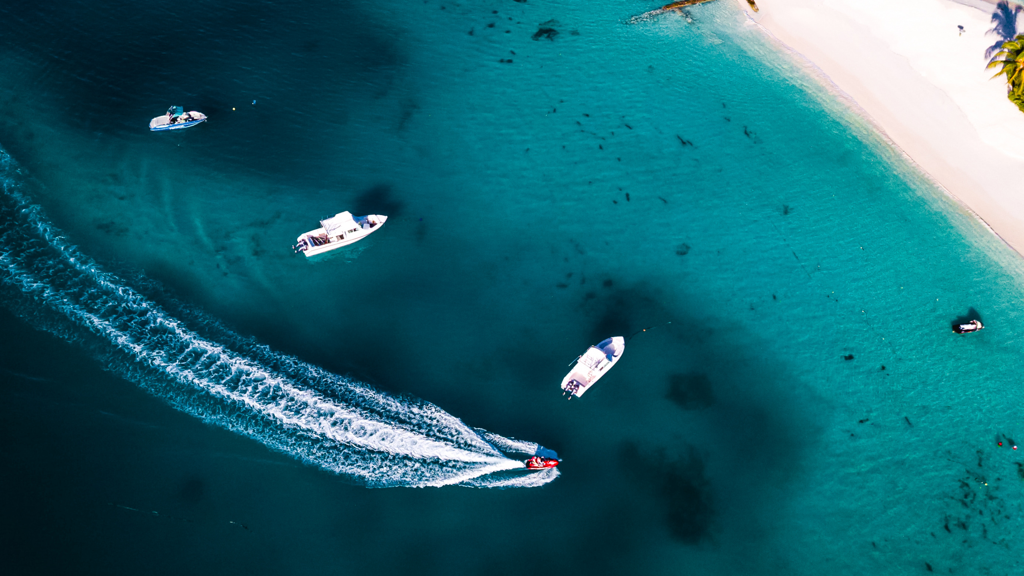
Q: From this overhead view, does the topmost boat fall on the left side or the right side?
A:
left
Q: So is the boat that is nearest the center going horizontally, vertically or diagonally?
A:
diagonally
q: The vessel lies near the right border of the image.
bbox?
[951,319,984,333]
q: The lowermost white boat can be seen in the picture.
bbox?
[560,338,625,404]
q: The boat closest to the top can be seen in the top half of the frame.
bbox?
[146,104,208,132]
